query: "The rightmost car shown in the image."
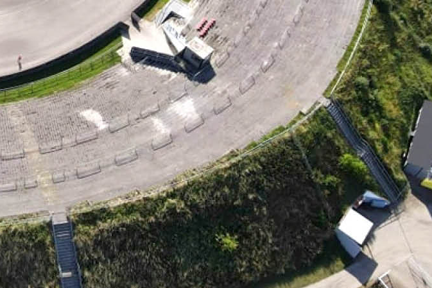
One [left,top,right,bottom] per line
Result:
[363,193,394,215]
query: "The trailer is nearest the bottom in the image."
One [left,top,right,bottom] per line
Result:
[331,208,374,254]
